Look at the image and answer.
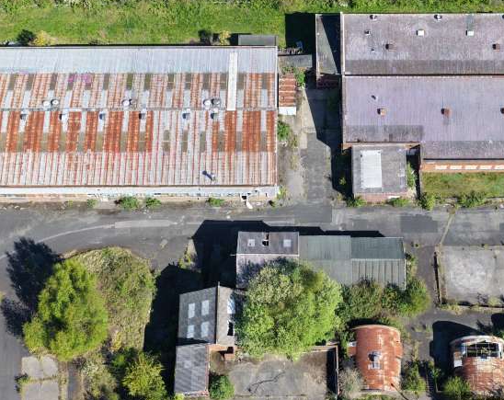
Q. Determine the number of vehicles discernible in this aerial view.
0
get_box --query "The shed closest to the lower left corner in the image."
[174,348,212,399]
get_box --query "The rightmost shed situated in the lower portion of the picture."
[454,335,504,400]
